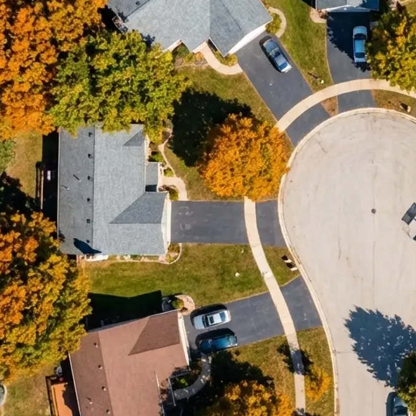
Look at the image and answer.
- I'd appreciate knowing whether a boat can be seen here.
No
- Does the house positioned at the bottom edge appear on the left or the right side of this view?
left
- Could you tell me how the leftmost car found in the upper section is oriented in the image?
on a diagonal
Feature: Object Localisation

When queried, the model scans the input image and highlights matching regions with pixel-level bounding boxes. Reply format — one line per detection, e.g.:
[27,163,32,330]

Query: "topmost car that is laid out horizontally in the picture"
[190,304,234,329]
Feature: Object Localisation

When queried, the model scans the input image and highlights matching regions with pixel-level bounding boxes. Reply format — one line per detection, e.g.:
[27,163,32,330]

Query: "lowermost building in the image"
[66,308,196,416]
